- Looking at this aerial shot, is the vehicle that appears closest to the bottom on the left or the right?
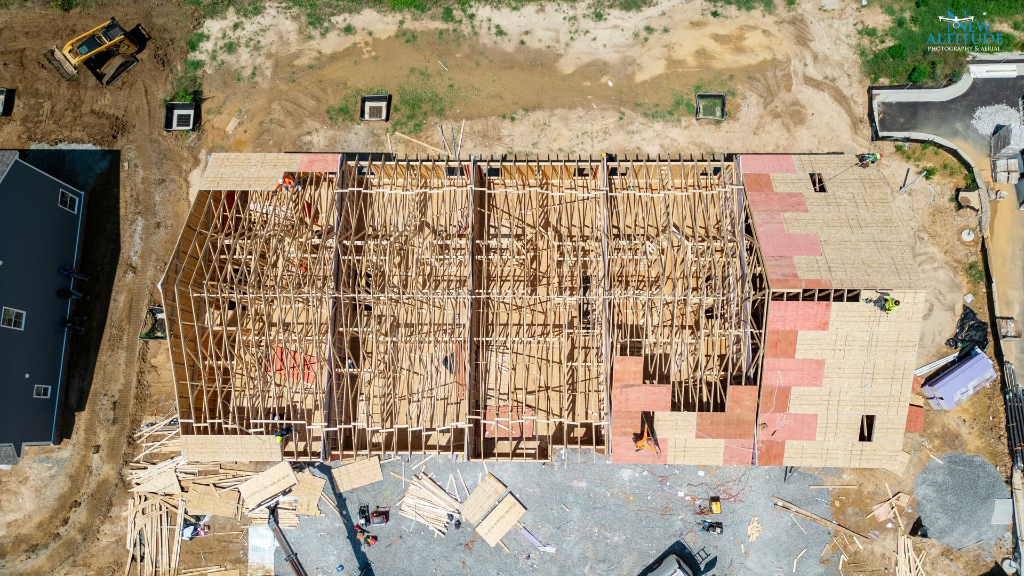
right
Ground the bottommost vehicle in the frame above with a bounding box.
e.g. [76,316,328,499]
[641,552,691,576]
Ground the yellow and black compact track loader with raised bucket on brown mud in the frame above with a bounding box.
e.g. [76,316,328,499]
[52,23,137,85]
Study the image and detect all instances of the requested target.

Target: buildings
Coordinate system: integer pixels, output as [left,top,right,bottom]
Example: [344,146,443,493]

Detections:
[0,145,88,464]
[158,153,926,468]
